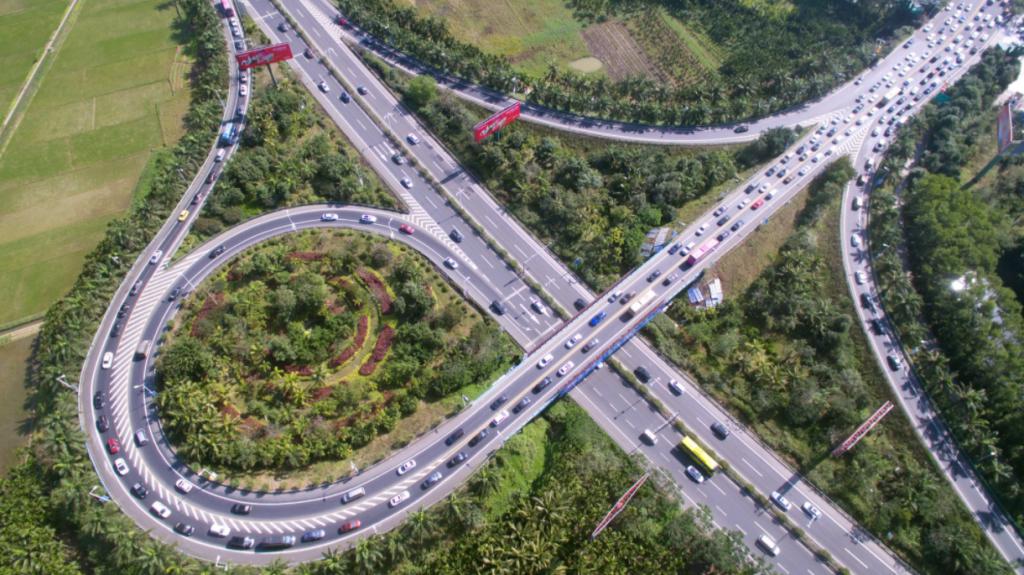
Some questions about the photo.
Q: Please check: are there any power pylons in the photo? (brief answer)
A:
No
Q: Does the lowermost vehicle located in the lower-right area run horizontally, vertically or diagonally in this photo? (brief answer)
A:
diagonally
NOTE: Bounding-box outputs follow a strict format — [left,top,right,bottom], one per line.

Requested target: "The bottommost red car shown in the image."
[340,519,360,532]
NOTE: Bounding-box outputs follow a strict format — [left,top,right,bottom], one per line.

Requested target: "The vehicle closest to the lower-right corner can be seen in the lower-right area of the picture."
[802,501,821,518]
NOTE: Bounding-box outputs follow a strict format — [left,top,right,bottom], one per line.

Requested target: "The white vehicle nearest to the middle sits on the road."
[532,299,546,313]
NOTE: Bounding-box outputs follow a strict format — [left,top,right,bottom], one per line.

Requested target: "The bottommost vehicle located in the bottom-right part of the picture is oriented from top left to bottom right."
[757,533,779,556]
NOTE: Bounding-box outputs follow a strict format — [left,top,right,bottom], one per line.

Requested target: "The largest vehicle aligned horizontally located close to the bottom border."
[259,534,295,548]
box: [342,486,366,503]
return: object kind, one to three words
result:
vehicle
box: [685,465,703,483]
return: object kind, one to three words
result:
car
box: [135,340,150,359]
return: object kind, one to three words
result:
vehicle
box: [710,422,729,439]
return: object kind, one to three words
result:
car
